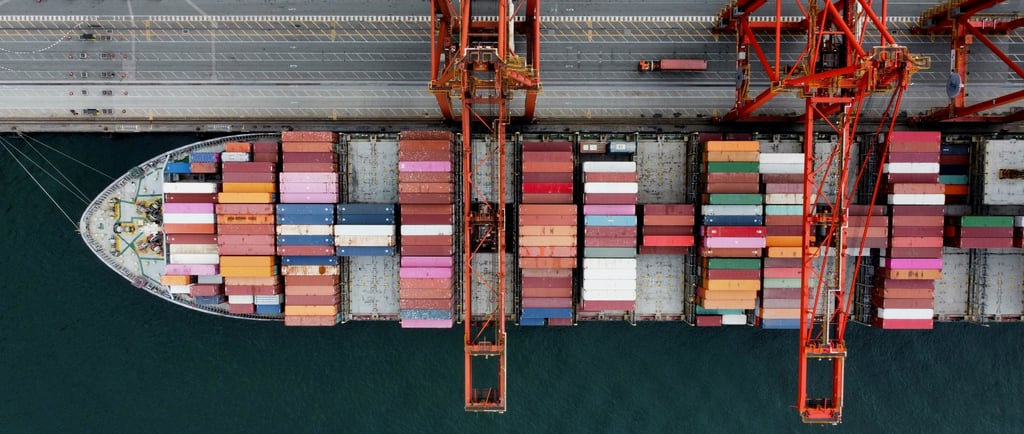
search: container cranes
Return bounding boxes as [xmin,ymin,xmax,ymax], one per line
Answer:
[899,0,1024,123]
[698,0,934,423]
[420,0,550,413]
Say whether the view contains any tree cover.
No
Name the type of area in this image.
port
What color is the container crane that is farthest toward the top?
red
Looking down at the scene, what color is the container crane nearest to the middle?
red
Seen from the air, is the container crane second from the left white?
No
